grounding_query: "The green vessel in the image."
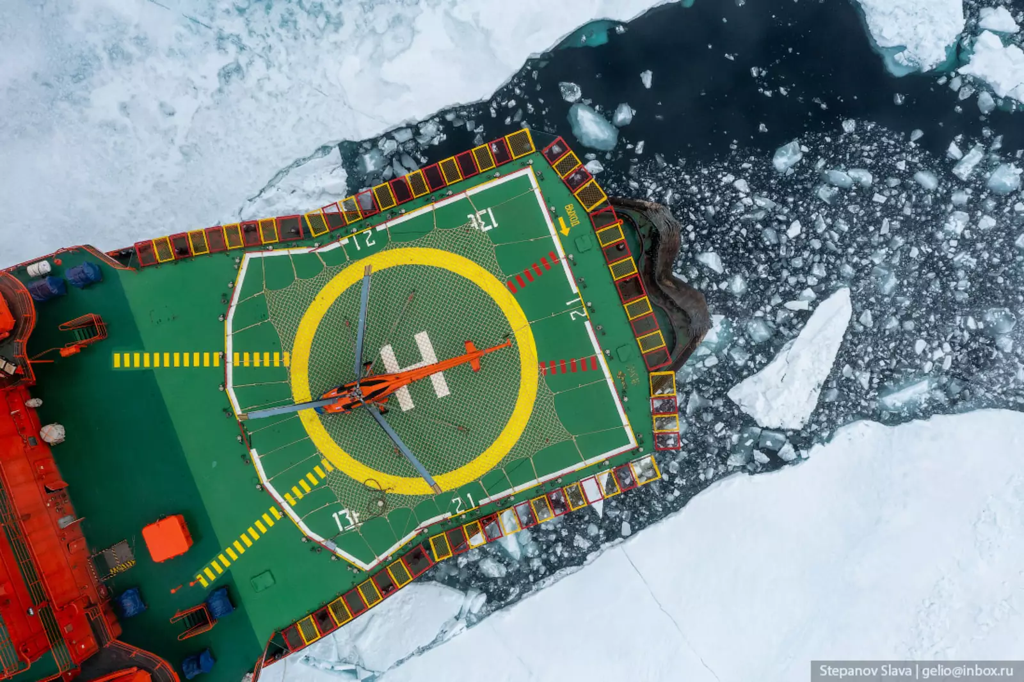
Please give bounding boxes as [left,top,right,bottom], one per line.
[0,150,714,682]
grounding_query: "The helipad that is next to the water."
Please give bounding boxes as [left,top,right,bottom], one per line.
[114,128,680,653]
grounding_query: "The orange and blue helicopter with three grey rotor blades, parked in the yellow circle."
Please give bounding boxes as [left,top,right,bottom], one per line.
[239,266,526,493]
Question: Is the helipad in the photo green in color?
Yes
